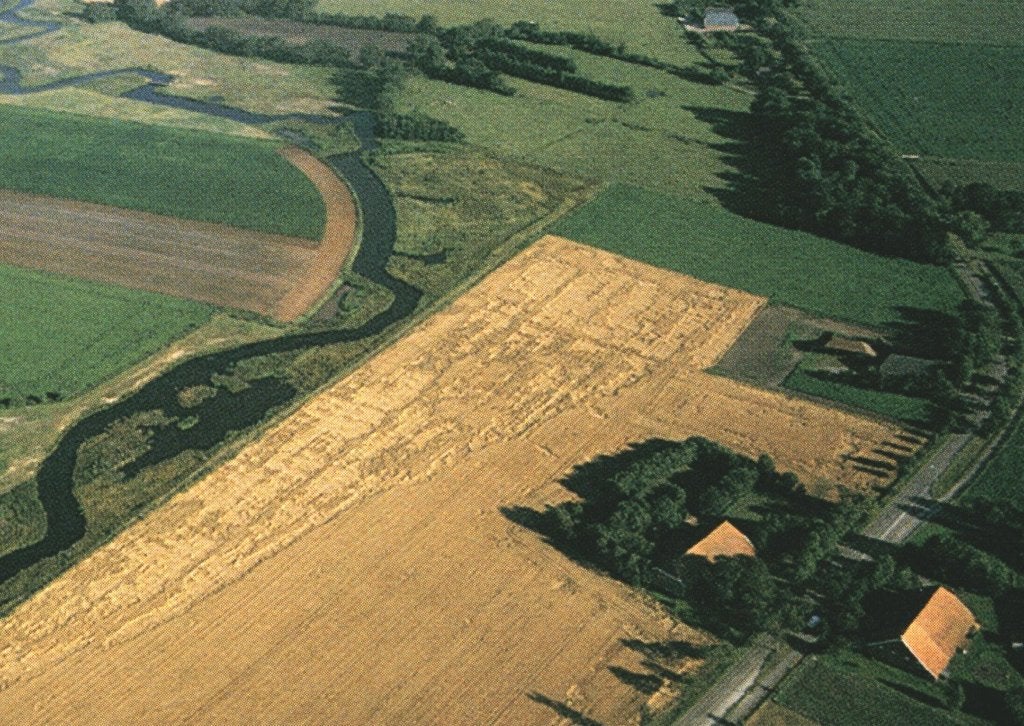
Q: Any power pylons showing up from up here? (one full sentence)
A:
No, the photo shows no power pylon.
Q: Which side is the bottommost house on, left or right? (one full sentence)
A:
The bottommost house sits on the right side.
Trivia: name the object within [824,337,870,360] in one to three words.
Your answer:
house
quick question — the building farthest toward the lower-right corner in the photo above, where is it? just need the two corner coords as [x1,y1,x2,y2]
[857,583,977,679]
